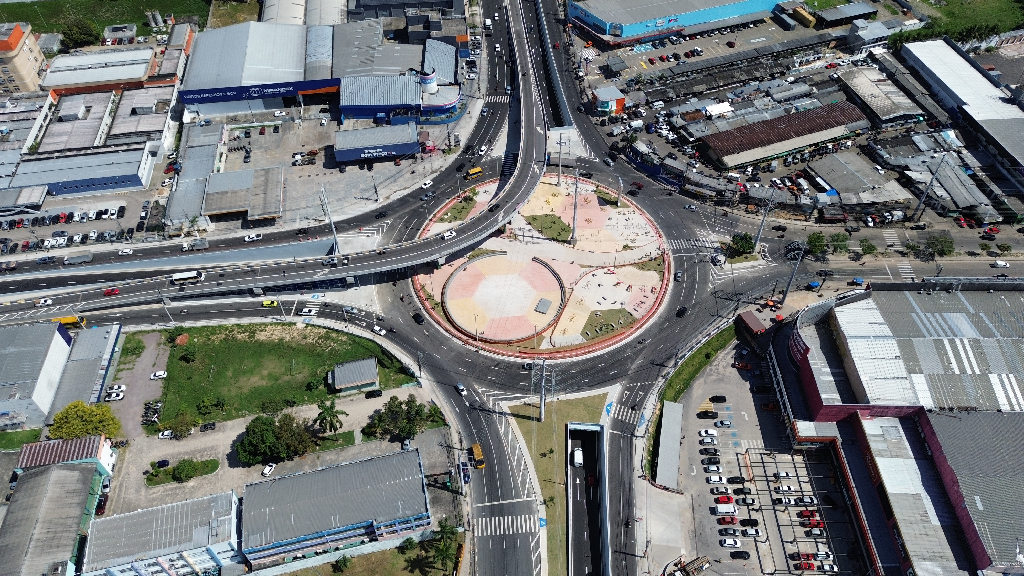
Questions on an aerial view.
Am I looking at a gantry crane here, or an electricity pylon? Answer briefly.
electricity pylon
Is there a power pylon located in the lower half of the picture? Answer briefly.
Yes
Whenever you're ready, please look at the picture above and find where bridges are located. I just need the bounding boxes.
[0,0,550,326]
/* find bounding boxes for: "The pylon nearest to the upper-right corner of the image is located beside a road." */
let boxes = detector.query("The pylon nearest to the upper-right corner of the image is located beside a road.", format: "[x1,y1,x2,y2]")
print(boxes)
[910,154,955,222]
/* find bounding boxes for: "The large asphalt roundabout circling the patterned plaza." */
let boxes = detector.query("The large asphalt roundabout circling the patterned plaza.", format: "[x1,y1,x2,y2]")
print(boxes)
[369,155,714,394]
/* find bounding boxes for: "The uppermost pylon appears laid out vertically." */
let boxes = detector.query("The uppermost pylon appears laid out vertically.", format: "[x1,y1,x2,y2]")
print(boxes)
[553,122,568,182]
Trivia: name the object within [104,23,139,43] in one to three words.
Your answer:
shed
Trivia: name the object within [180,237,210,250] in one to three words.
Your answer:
vehicle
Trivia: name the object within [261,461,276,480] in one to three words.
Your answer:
car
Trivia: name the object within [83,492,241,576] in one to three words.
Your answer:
building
